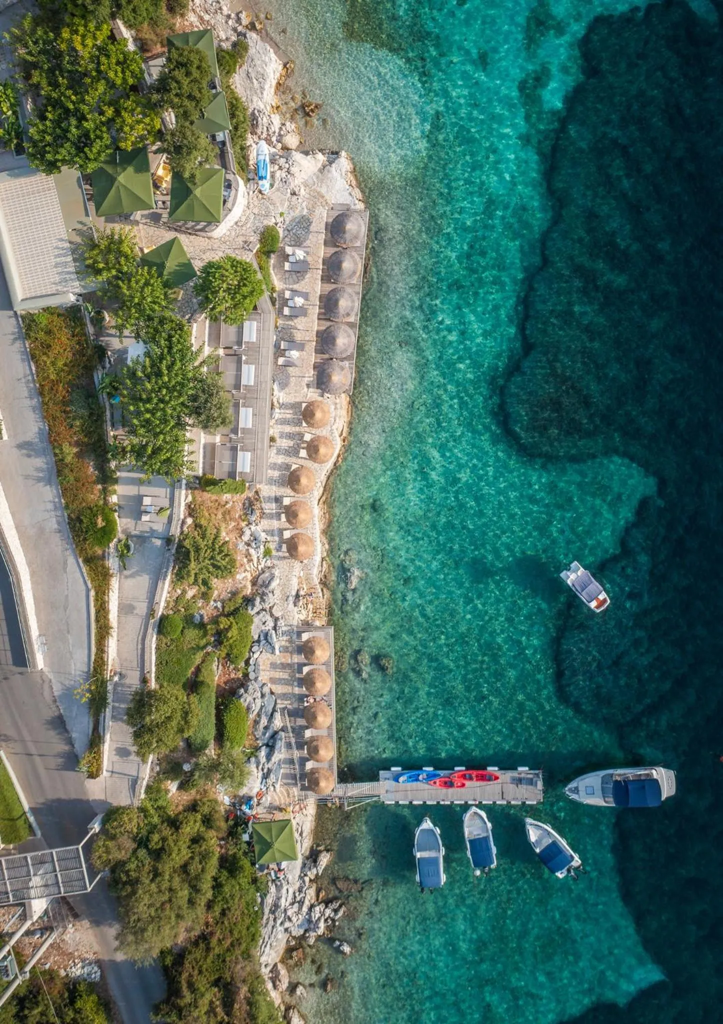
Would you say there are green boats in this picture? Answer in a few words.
No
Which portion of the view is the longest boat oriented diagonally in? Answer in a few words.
bottom right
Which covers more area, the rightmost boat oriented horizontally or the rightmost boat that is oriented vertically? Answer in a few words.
the rightmost boat oriented horizontally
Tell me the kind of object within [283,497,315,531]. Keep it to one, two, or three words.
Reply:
umbrella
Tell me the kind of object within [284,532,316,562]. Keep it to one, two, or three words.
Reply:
umbrella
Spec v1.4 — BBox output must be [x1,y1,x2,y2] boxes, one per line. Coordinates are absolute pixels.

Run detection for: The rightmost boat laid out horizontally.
[563,768,676,813]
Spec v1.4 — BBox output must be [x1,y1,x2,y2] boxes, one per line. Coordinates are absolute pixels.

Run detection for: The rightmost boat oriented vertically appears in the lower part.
[463,806,497,875]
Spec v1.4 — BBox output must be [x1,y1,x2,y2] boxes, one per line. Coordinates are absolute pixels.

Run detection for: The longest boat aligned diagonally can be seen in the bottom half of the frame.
[523,804,584,880]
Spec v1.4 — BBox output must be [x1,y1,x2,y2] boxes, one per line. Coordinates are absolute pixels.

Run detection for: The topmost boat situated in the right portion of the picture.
[556,556,608,611]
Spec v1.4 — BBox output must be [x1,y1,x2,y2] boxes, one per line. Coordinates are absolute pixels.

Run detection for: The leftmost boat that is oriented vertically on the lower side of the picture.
[413,806,445,891]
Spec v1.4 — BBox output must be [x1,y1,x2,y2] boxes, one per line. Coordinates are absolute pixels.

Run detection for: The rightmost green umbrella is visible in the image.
[253,818,298,864]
